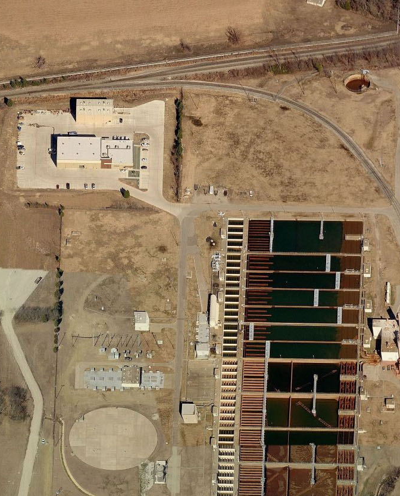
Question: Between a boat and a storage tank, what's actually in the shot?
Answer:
storage tank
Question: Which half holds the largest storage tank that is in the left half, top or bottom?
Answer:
bottom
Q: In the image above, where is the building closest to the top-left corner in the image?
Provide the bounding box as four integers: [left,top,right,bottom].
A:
[76,99,113,124]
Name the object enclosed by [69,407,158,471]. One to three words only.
storage tank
